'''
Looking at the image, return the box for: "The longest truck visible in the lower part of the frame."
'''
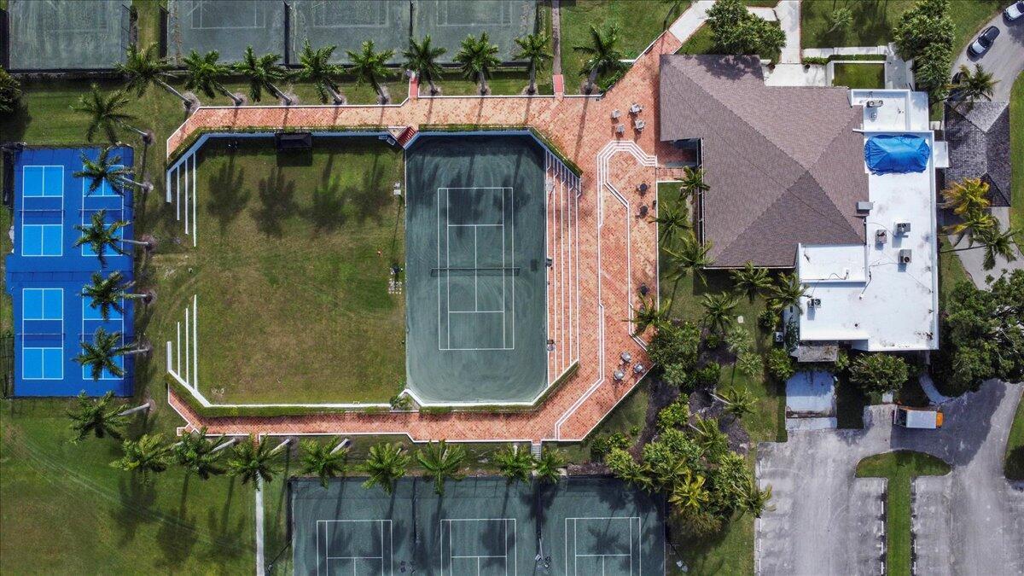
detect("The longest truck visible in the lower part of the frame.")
[892,408,943,429]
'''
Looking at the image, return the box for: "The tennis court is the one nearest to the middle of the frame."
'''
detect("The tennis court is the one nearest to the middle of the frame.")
[406,134,547,404]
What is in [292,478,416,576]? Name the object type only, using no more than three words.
tennis court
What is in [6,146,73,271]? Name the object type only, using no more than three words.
sports court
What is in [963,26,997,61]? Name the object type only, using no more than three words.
car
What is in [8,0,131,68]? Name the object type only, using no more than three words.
tennis court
